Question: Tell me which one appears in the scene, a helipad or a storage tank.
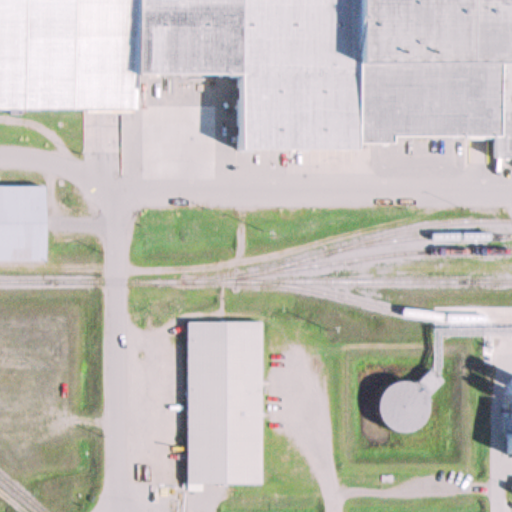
storage tank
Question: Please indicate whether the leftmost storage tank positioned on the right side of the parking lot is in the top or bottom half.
bottom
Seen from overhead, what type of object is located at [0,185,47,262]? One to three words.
building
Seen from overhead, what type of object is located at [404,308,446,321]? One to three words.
rail car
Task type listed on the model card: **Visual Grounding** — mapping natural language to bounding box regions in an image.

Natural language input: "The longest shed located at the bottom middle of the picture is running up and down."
[186,322,264,484]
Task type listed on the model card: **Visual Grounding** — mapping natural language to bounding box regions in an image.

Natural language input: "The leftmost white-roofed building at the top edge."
[0,0,139,114]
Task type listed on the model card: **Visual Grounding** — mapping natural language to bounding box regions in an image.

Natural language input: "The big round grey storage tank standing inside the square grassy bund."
[376,381,430,433]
